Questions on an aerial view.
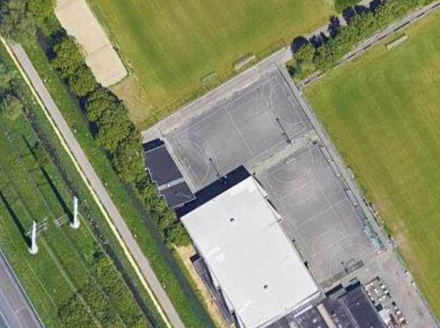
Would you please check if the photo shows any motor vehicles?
No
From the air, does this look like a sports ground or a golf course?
sports ground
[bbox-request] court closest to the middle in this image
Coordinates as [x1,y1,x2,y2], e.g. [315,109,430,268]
[163,71,315,196]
